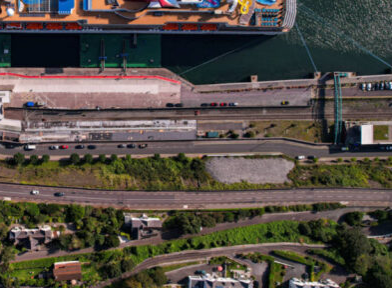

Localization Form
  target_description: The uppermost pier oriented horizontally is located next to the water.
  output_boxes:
[79,35,162,67]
